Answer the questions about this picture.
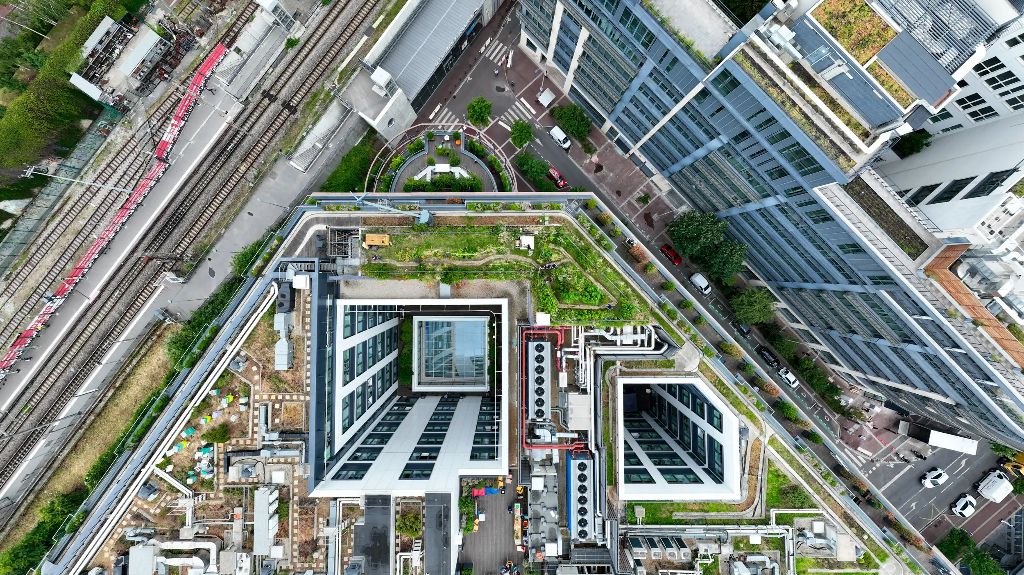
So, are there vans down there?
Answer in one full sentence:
Yes, the photo shows a van.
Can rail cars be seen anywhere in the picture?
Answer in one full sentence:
No, I find no rail car anywhere in the image.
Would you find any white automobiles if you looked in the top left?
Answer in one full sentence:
No, no white automobile is visible in the top left.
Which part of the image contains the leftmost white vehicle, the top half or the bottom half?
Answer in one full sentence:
The leftmost white vehicle is in the top half of the image.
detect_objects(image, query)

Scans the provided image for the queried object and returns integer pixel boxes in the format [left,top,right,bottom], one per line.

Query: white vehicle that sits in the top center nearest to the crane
[549,124,572,148]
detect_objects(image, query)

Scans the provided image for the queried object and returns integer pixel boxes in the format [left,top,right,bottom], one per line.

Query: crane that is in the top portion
[350,191,436,226]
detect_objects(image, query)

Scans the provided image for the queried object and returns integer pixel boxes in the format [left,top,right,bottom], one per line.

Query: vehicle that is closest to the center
[547,162,568,187]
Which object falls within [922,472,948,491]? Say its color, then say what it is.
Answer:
white car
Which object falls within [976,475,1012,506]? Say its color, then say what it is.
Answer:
white van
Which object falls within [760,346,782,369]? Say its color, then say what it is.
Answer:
black car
